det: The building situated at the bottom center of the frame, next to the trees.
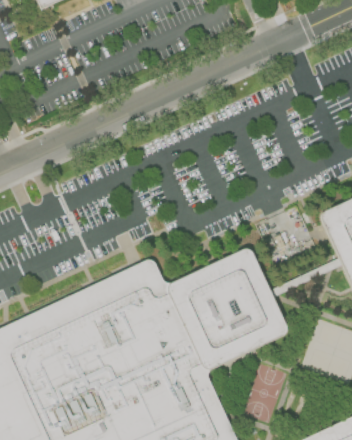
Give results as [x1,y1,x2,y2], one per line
[0,248,288,440]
